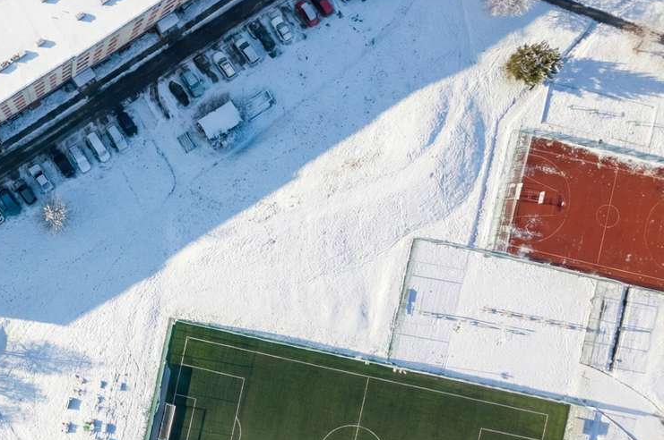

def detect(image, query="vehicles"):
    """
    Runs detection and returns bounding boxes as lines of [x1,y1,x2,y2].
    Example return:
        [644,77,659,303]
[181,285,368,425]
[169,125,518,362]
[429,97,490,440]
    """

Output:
[104,121,129,151]
[181,71,204,97]
[86,130,111,162]
[0,185,21,215]
[214,53,235,79]
[69,143,92,174]
[294,0,319,28]
[31,165,55,194]
[54,150,76,177]
[270,12,293,41]
[116,109,140,138]
[17,178,38,206]
[250,19,273,49]
[312,0,333,16]
[236,37,261,67]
